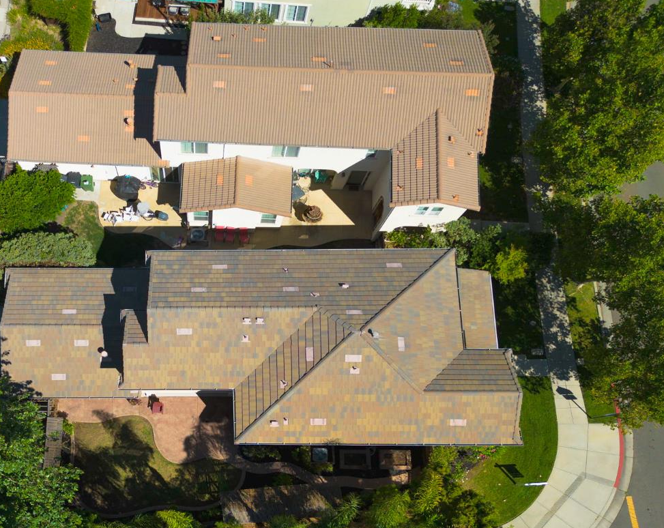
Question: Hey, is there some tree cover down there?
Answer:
Yes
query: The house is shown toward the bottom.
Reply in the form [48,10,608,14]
[0,247,531,447]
